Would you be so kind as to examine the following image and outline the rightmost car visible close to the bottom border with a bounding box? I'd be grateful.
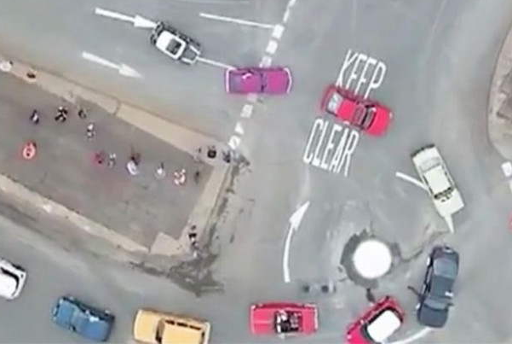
[415,245,461,328]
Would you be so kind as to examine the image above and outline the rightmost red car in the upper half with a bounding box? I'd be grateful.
[322,84,392,135]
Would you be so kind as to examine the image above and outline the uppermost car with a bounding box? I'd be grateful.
[148,19,201,65]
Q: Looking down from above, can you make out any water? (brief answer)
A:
No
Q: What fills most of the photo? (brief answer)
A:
paved ground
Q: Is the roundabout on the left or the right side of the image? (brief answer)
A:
right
